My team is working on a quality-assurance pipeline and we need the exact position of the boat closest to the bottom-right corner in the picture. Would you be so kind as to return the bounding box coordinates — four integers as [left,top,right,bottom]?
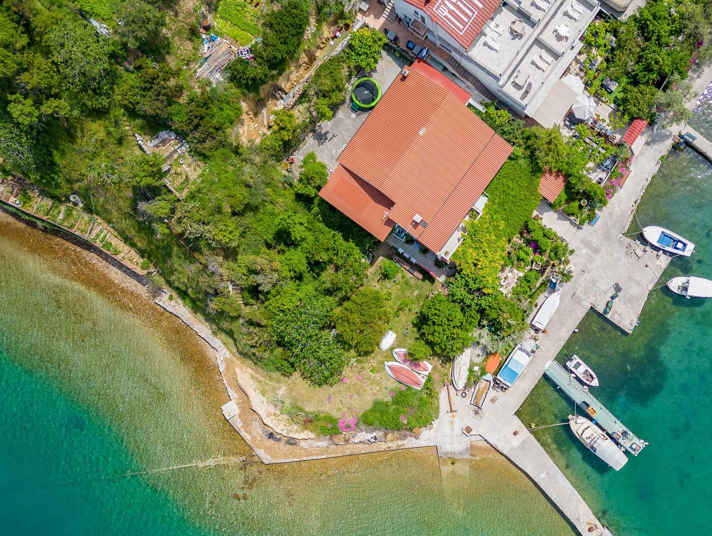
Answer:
[566,418,630,474]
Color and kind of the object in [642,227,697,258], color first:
white boat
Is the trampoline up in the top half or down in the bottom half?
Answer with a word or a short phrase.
top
